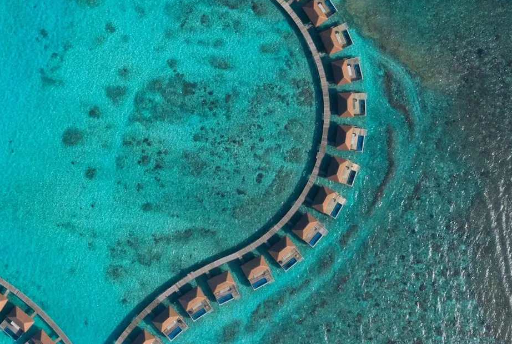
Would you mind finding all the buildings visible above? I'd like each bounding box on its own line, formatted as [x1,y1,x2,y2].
[240,255,274,292]
[318,22,355,55]
[24,328,56,344]
[335,91,368,117]
[324,155,361,187]
[329,55,363,86]
[206,270,240,307]
[0,305,34,343]
[334,125,368,152]
[310,186,347,219]
[290,213,328,249]
[267,235,304,272]
[129,328,163,344]
[300,0,338,27]
[178,285,214,322]
[152,305,189,343]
